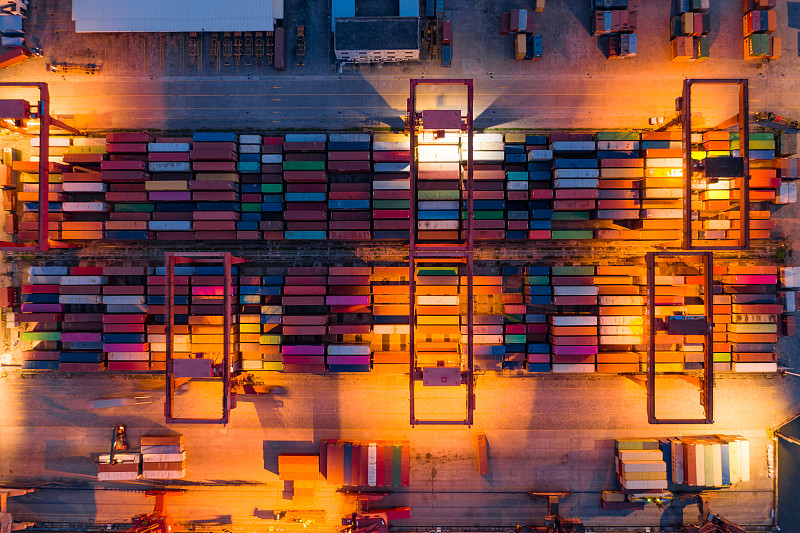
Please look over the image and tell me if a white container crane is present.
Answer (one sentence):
No, the frame has no white container crane in it.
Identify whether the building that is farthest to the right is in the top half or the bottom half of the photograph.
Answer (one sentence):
You can find the building that is farthest to the right in the top half.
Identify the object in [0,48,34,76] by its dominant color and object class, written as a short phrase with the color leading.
red shipping container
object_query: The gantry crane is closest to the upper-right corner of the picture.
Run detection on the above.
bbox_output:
[645,79,751,251]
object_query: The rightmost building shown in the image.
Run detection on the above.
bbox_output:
[333,0,419,60]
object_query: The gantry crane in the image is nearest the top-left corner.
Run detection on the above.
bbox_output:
[0,82,98,251]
